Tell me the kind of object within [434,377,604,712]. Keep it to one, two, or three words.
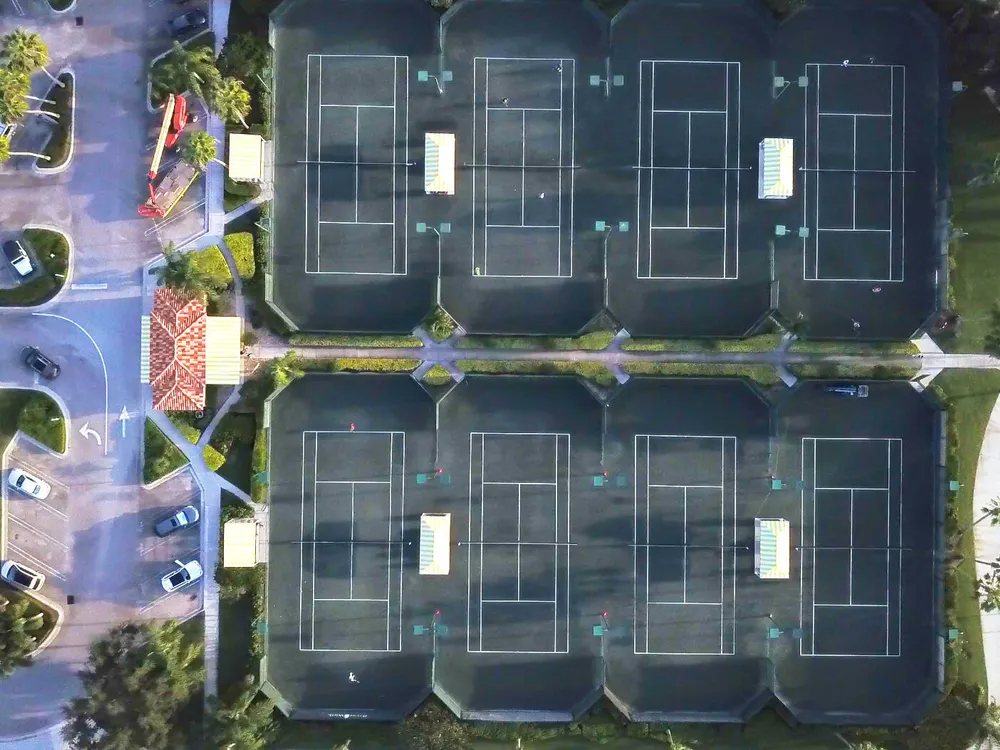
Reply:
tennis court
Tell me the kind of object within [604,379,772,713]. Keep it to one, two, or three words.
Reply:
tennis court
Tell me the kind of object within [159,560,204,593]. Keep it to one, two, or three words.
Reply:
car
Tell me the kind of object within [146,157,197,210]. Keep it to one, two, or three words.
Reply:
trailer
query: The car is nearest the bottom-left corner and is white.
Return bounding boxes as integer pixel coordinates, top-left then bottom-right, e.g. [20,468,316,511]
[0,559,47,593]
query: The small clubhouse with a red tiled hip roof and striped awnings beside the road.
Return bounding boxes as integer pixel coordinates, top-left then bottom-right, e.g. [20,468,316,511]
[141,288,249,411]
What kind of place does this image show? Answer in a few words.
sports ground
